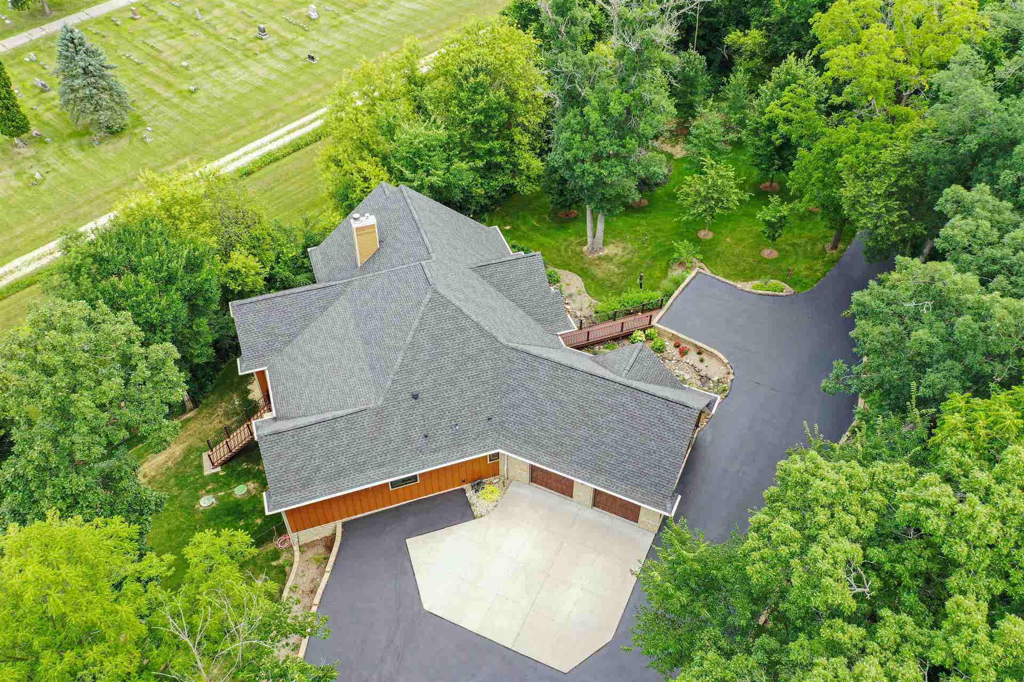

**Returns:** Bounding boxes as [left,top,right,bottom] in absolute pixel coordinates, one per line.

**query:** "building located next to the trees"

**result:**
[231,180,721,542]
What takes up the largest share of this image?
trees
